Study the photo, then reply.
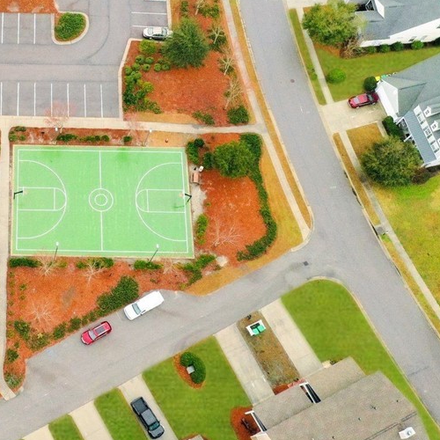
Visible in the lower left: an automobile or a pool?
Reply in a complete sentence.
There is an automobile in the lower left.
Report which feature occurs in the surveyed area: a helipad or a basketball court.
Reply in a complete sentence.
Visible in the photo is a basketball court.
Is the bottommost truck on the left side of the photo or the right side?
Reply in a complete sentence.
You can find the bottommost truck on the left side of the picture.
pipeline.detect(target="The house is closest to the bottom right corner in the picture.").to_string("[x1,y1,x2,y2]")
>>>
[241,356,425,440]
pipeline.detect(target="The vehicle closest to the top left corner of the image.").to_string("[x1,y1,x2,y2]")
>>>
[143,27,173,42]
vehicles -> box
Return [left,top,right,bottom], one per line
[143,27,173,42]
[125,292,166,322]
[347,90,378,108]
[80,319,114,345]
[131,396,165,440]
